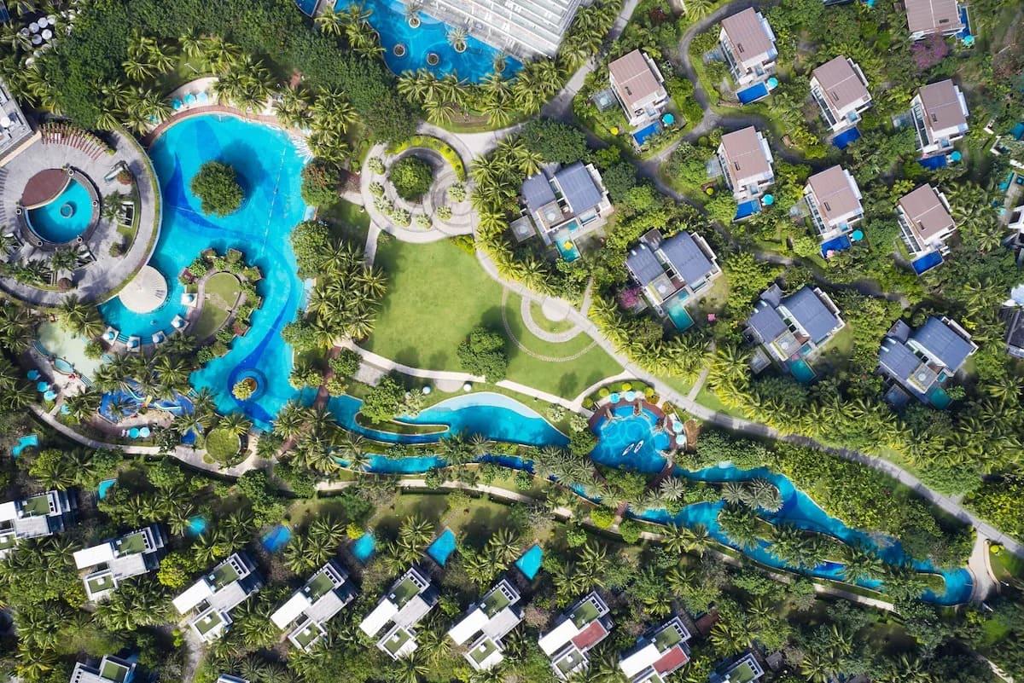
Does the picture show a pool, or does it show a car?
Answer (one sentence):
The image shows a pool.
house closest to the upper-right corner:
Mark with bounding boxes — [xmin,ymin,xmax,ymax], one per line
[890,0,964,48]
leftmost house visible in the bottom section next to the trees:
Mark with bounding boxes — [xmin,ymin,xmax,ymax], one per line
[0,486,80,552]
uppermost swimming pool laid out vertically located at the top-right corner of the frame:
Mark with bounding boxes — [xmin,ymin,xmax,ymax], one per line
[954,6,969,41]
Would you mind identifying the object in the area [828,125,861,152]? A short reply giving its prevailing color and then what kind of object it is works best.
blue swimming pool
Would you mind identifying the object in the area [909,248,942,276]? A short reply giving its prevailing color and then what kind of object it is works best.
blue swimming pool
